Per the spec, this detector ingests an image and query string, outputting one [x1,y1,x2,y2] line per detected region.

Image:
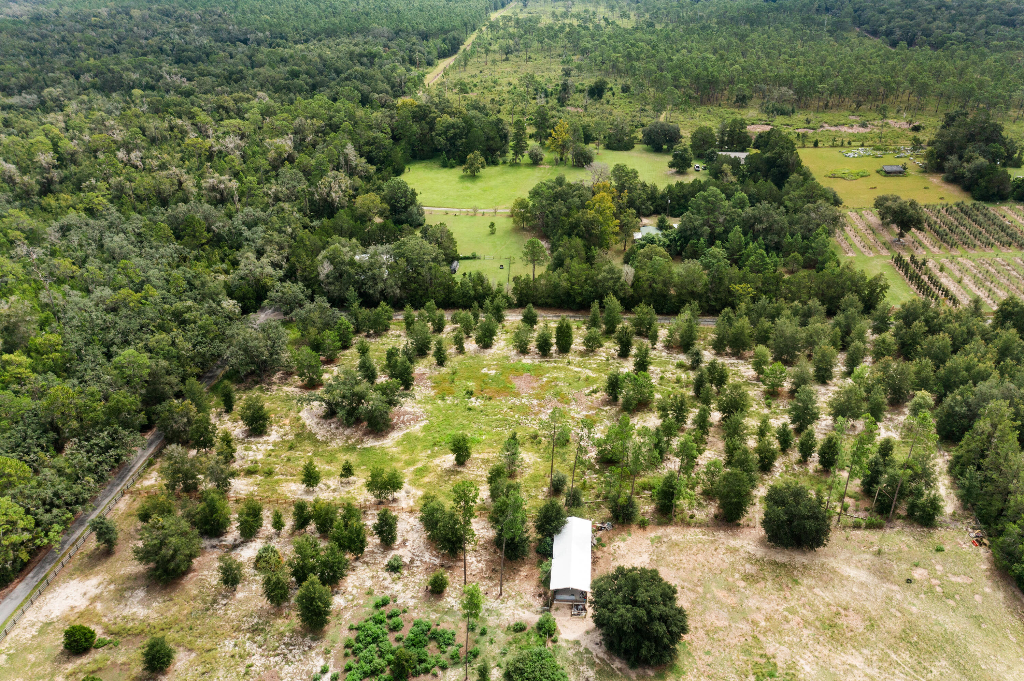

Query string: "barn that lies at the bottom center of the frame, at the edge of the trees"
[549,515,592,609]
